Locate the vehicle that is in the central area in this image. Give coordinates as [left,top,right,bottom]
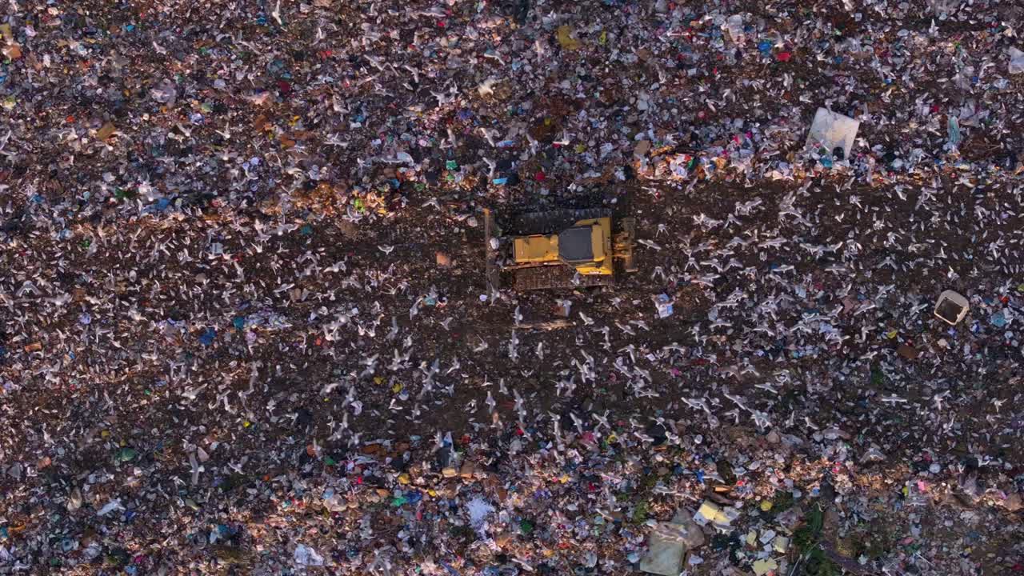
[472,205,643,303]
